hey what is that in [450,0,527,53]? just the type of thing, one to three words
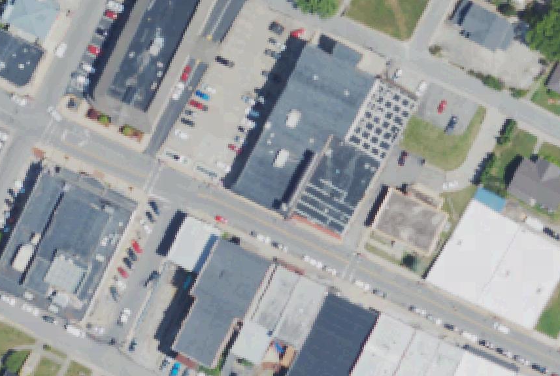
house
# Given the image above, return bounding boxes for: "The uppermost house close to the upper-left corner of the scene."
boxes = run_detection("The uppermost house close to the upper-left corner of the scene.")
[1,0,60,43]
